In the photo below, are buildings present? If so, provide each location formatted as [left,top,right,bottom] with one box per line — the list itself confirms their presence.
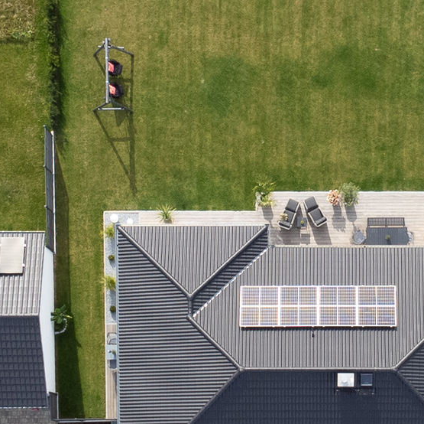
[0,229,55,410]
[115,222,424,424]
